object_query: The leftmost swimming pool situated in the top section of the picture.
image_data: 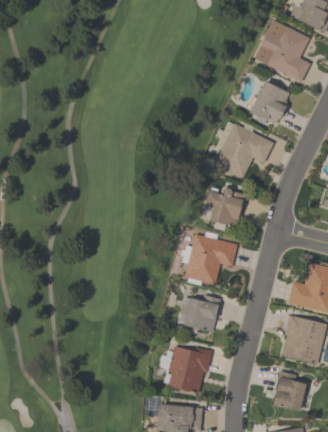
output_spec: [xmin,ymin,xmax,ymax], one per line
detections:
[240,79,256,102]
